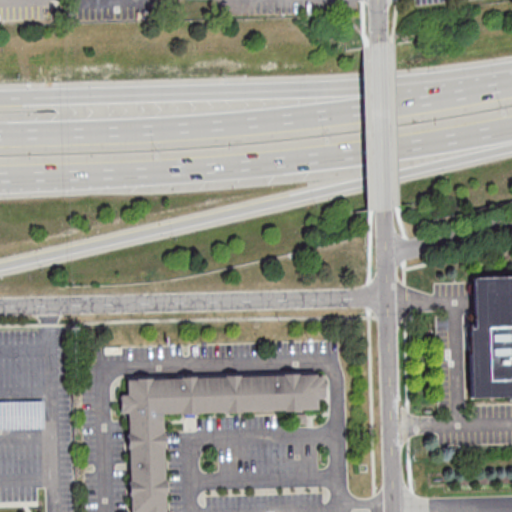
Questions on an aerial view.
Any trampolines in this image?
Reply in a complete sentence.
No, no trampoline can be seen from above.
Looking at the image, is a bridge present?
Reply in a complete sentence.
Yes, a bridge can be made out from above.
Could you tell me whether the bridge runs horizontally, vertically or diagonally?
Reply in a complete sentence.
The bridge runs vertically in the image.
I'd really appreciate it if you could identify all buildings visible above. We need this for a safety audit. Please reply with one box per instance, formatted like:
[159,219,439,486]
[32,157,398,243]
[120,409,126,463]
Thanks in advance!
[0,402,46,430]
[472,277,512,400]
[124,373,327,512]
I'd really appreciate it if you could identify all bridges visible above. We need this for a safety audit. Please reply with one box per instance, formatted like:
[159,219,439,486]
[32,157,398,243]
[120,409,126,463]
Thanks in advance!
[350,42,414,212]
